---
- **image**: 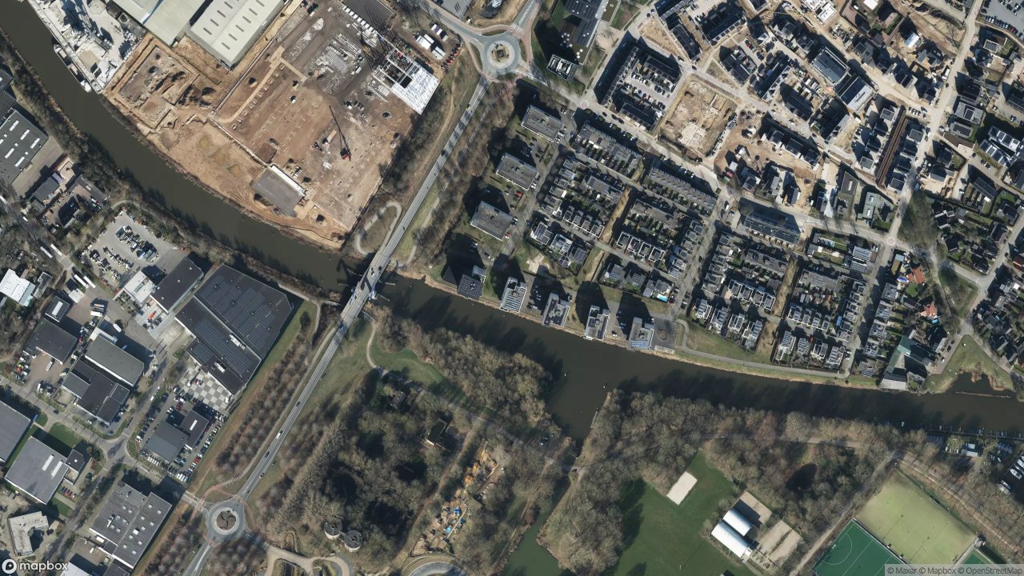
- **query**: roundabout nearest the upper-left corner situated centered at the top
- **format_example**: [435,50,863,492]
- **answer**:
[479,32,523,75]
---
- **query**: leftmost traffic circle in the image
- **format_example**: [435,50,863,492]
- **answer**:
[206,500,247,541]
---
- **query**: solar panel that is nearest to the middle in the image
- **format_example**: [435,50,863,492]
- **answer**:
[505,293,523,310]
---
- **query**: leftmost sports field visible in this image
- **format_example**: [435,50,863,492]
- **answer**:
[611,453,760,576]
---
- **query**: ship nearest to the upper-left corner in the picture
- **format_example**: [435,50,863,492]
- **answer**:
[54,47,92,94]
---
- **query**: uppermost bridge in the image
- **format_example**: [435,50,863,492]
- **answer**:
[331,256,390,332]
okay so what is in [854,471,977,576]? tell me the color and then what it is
green sports field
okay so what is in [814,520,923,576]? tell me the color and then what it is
green sports field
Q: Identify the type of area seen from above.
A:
residential area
